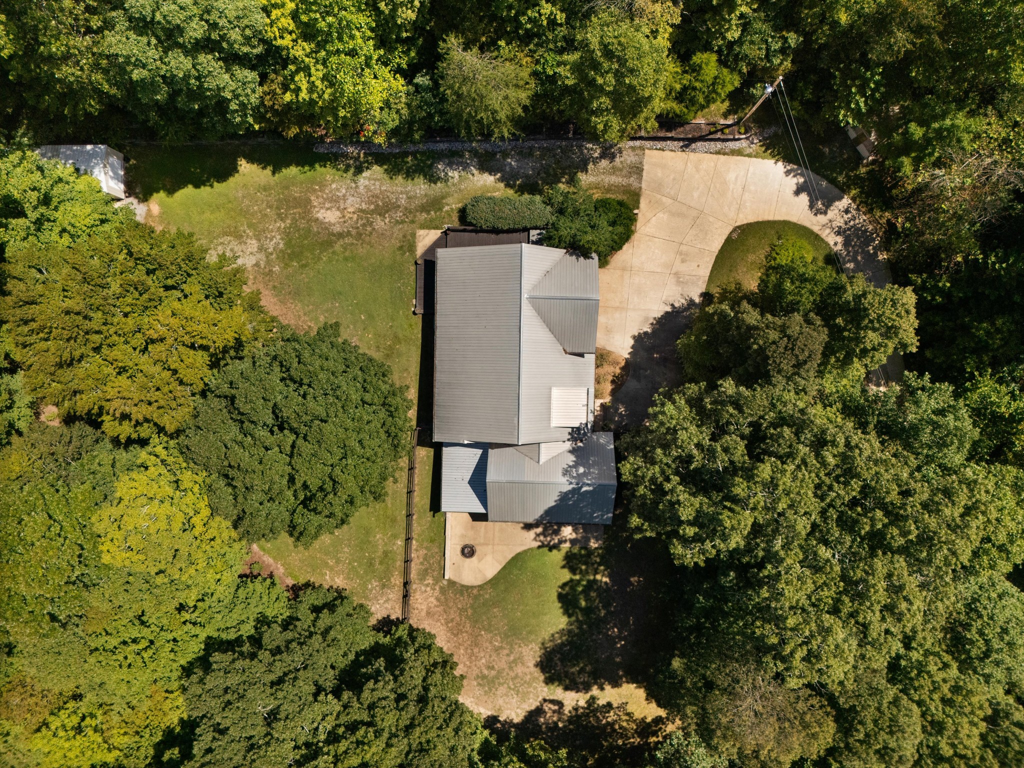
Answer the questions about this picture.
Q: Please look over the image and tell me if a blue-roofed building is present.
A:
No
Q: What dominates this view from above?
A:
trees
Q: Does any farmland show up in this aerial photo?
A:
No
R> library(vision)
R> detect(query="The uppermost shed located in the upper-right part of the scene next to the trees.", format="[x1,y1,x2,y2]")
[836,123,876,165]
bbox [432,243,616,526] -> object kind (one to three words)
house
